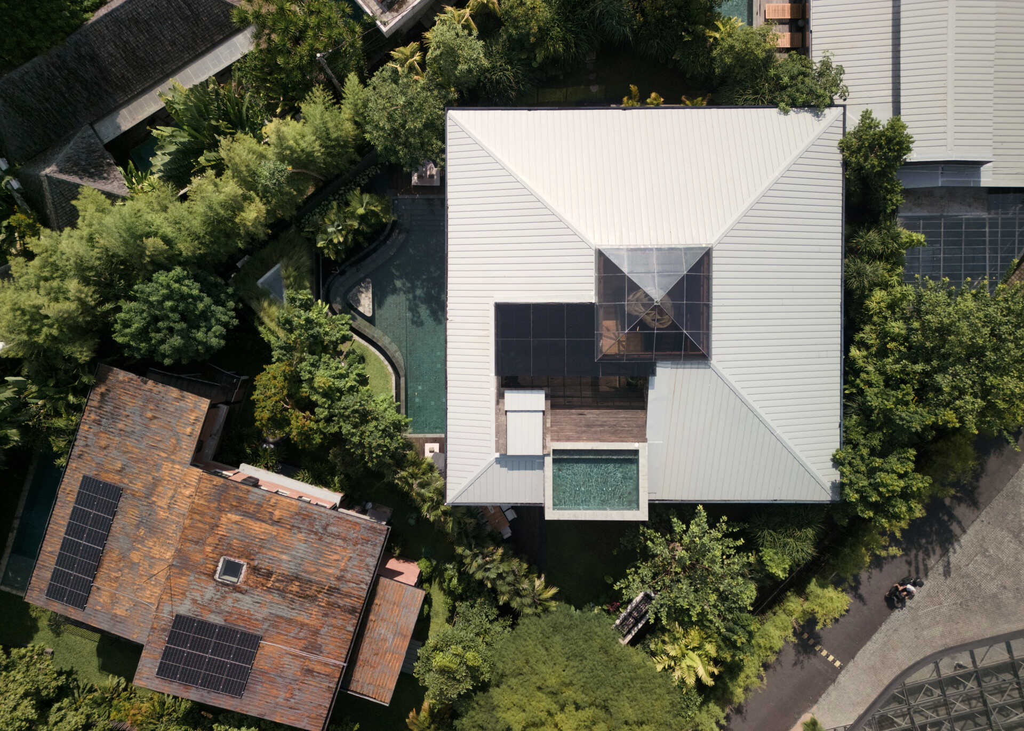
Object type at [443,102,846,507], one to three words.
house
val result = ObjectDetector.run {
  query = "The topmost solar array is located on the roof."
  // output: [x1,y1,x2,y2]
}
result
[43,472,110,611]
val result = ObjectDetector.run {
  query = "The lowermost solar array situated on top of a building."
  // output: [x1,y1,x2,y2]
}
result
[155,615,259,698]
